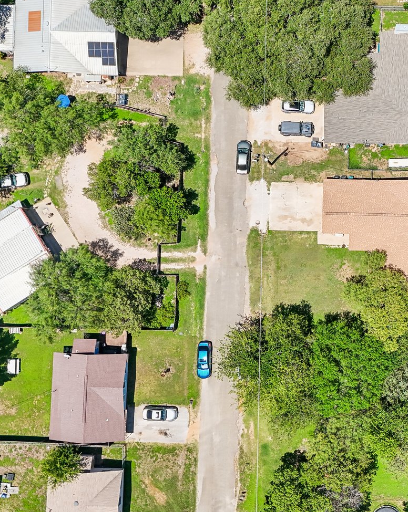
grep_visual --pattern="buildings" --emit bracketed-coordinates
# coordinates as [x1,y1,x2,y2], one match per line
[322,179,408,291]
[0,200,64,312]
[45,450,127,512]
[325,24,408,145]
[0,0,121,85]
[49,339,134,444]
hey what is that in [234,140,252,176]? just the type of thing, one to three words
car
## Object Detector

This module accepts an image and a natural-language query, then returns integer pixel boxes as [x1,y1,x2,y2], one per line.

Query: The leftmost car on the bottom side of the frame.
[142,405,180,423]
